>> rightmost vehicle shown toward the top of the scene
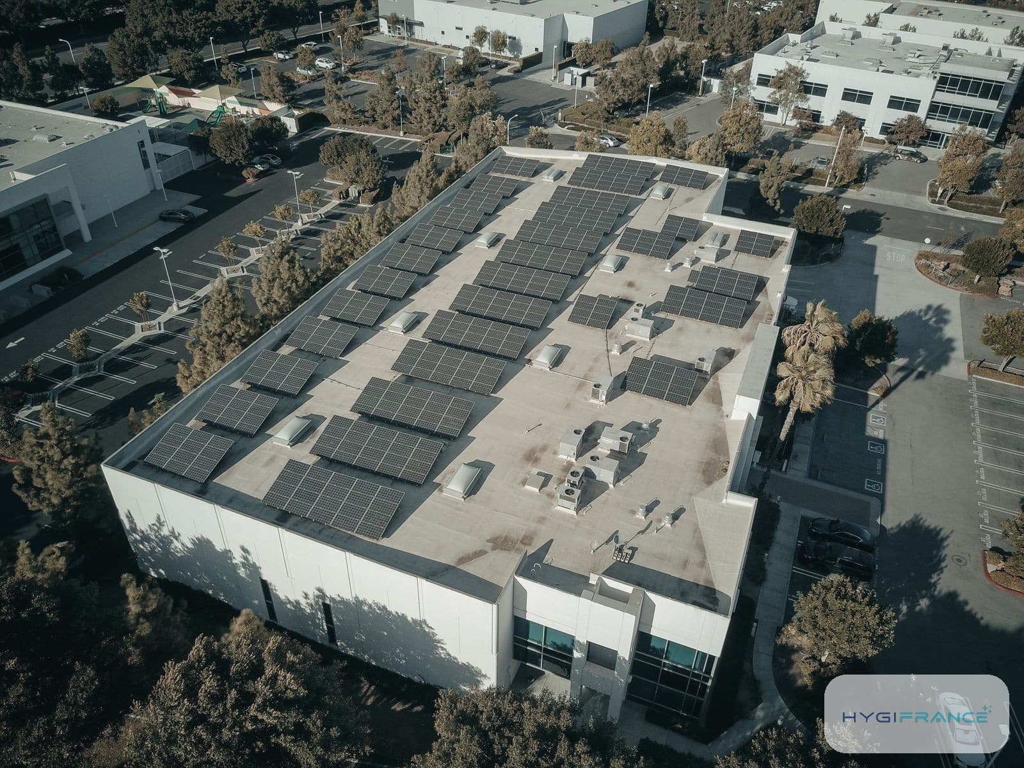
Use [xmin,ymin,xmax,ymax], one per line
[894,142,926,162]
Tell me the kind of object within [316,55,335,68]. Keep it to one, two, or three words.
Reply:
vehicle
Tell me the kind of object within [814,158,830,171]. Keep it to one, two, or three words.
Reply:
vehicle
